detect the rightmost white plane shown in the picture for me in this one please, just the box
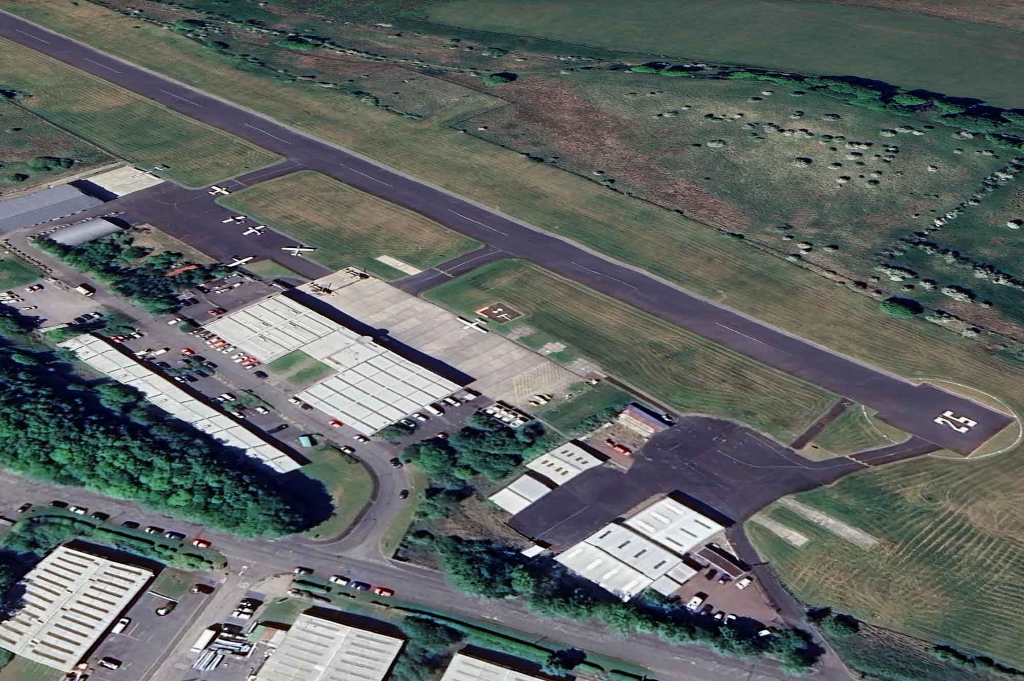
[459,314,486,334]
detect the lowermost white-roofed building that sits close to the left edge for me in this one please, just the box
[0,547,157,681]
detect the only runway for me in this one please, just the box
[0,10,1015,457]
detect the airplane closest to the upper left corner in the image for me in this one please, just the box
[136,165,158,179]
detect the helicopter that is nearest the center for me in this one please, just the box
[350,265,375,283]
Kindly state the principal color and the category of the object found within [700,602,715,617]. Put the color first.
black car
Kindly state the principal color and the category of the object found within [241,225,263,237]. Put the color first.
white airplane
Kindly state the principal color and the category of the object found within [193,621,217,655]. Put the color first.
white truck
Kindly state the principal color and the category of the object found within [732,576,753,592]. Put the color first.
white vehicle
